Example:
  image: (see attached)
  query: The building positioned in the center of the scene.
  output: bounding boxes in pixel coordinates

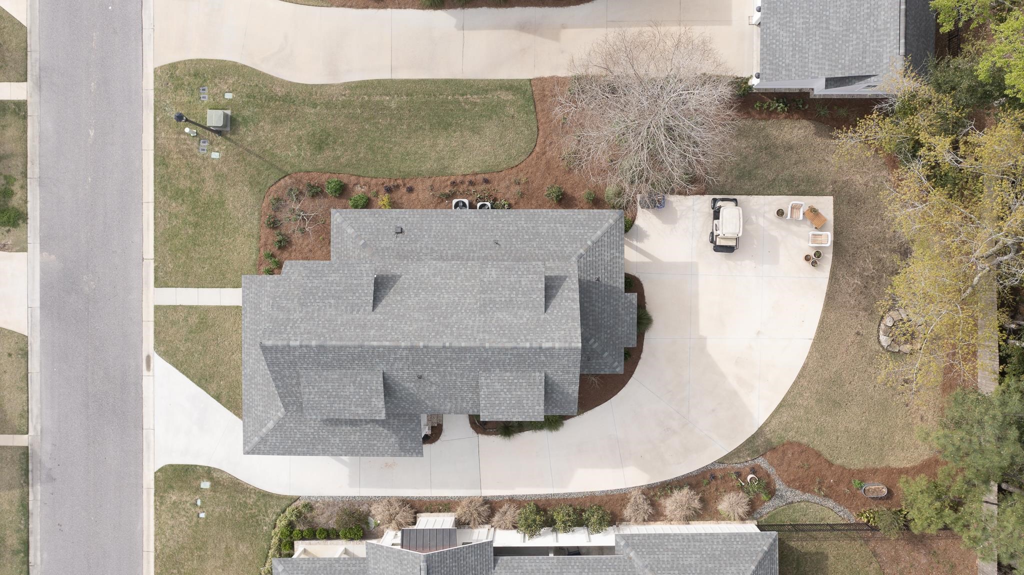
[242,208,637,458]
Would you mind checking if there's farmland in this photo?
No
